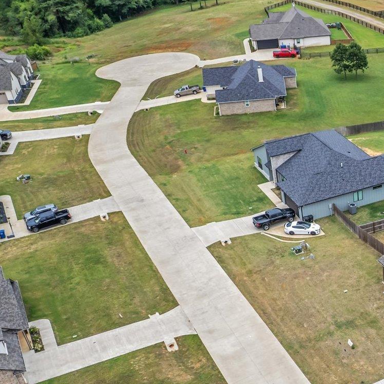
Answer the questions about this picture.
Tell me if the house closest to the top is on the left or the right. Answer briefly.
right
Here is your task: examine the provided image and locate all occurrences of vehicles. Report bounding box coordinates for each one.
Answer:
[249,205,300,230]
[269,45,301,57]
[167,81,202,98]
[0,127,15,139]
[281,219,323,234]
[18,206,73,232]
[18,197,60,220]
